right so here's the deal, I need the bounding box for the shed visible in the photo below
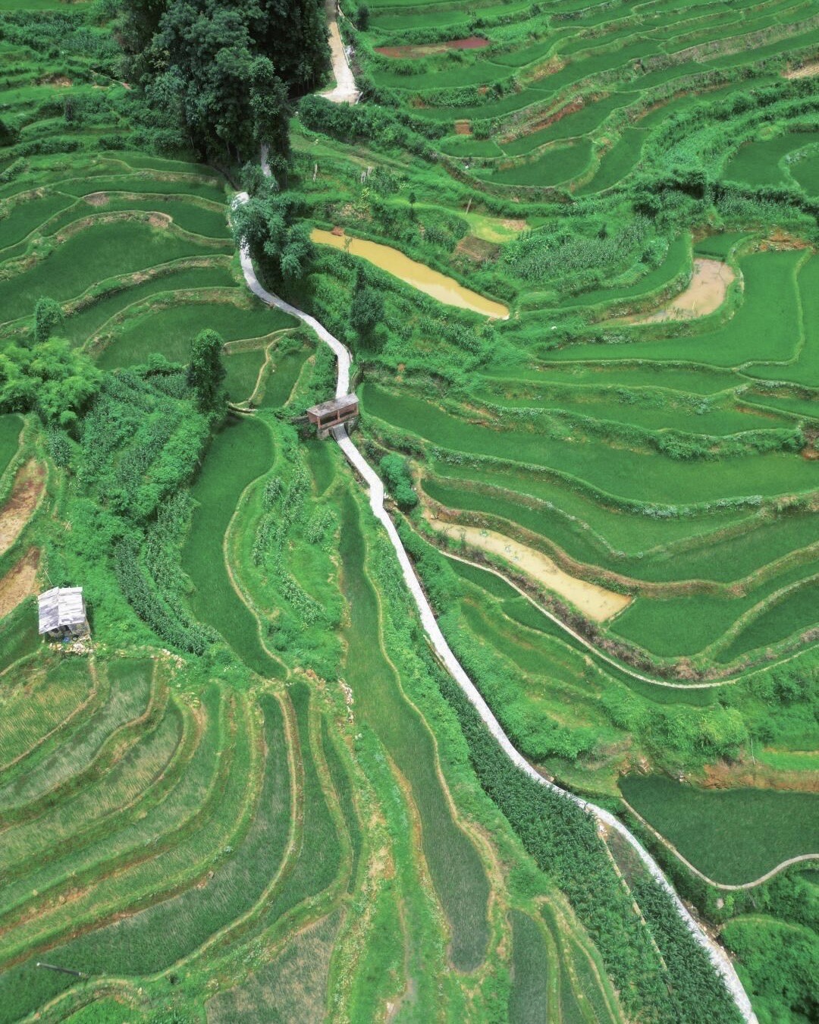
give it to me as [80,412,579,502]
[37,586,91,641]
